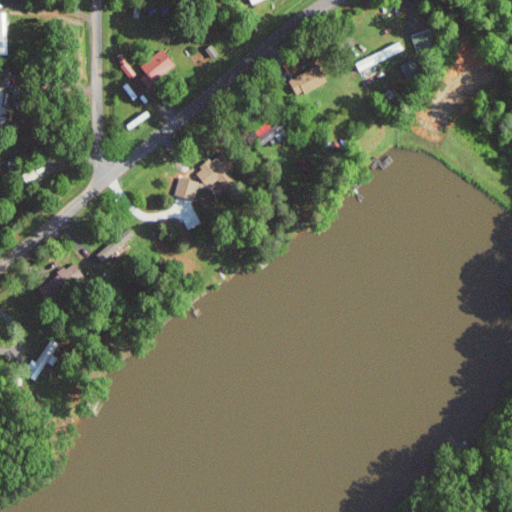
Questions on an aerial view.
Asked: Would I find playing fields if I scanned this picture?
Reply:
No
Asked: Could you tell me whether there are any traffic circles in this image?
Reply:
No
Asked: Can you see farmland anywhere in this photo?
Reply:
No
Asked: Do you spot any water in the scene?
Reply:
Yes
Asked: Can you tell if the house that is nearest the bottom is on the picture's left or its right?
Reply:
left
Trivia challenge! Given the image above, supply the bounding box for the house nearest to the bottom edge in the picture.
[30,340,59,381]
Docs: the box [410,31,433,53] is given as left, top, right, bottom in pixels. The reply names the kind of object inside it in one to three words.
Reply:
building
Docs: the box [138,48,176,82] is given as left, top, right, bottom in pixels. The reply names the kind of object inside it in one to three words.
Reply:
house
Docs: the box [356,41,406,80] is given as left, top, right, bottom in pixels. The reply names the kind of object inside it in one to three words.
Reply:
house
